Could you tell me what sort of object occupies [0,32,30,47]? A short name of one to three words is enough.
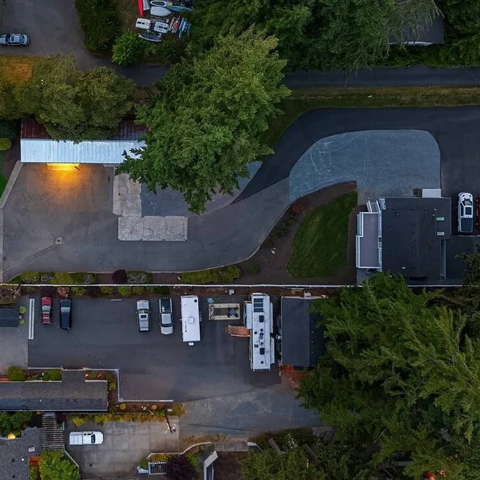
car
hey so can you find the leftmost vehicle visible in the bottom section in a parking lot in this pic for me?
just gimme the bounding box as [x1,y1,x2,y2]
[39,296,53,324]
